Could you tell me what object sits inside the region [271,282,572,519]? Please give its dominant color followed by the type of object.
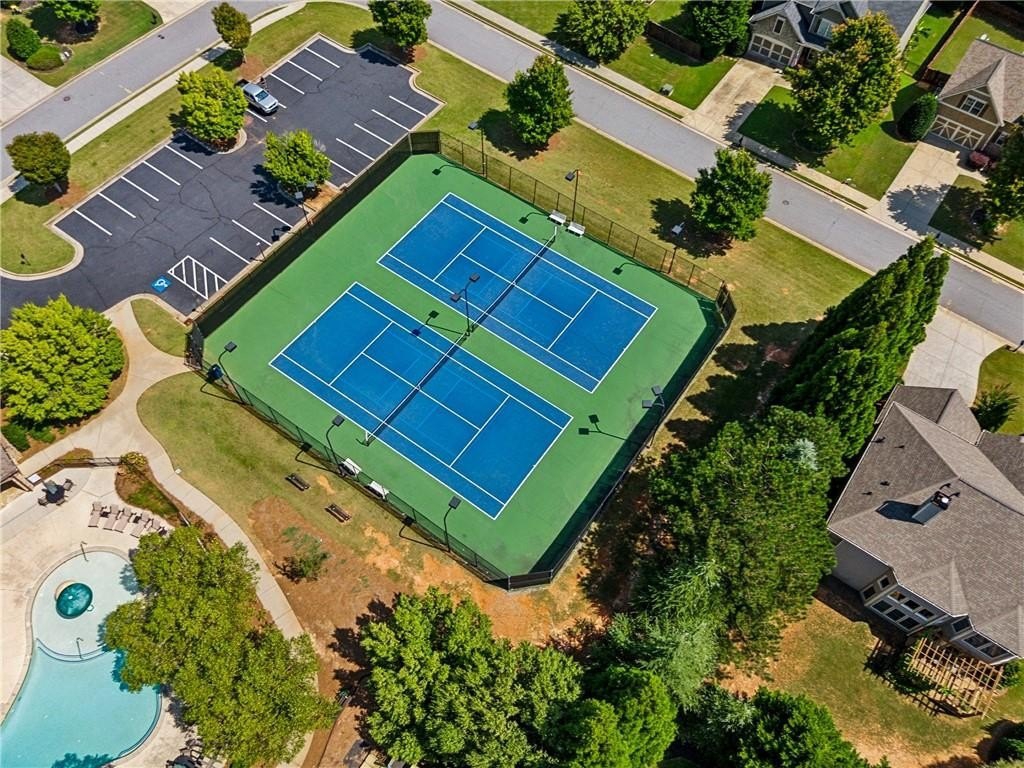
blue tennis court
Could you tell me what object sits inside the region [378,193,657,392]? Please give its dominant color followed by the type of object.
blue tennis court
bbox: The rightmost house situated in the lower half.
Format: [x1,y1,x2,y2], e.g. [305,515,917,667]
[814,382,1024,686]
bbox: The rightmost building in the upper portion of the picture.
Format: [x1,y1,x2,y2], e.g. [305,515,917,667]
[931,36,1024,155]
